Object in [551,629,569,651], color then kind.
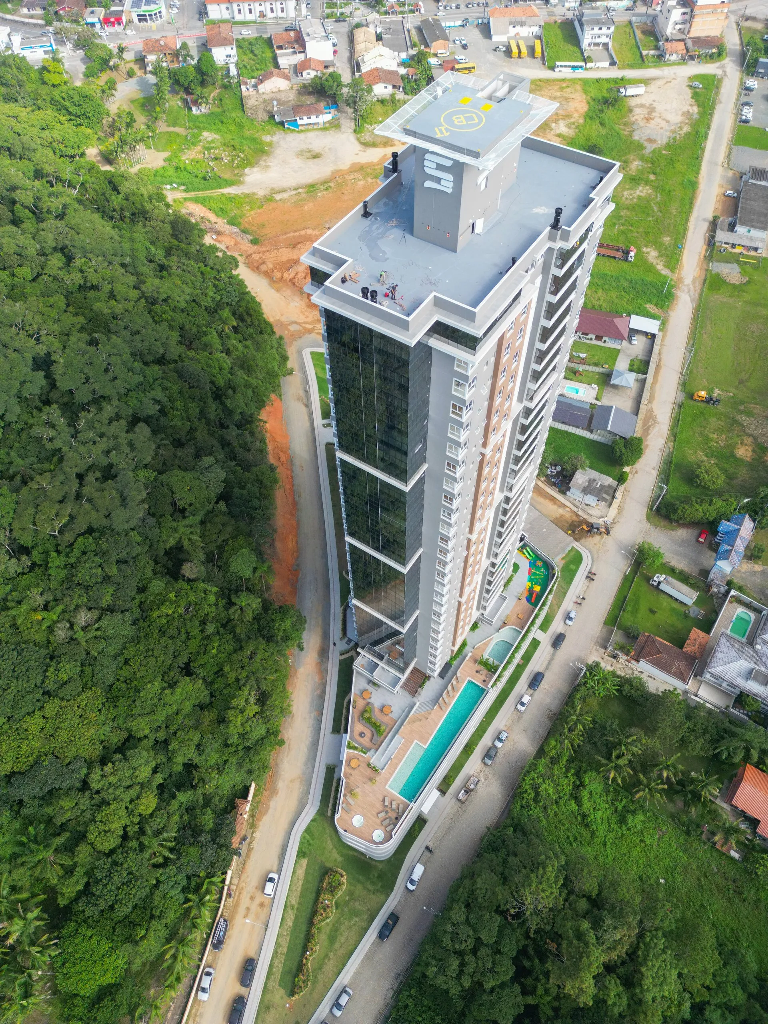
gray car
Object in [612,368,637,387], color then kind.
white gazebo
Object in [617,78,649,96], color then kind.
white vehicle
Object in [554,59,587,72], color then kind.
white vehicle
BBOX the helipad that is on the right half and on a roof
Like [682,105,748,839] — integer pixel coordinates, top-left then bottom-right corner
[402,82,534,156]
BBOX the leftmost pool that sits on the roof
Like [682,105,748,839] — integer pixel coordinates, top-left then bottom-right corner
[386,680,489,803]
